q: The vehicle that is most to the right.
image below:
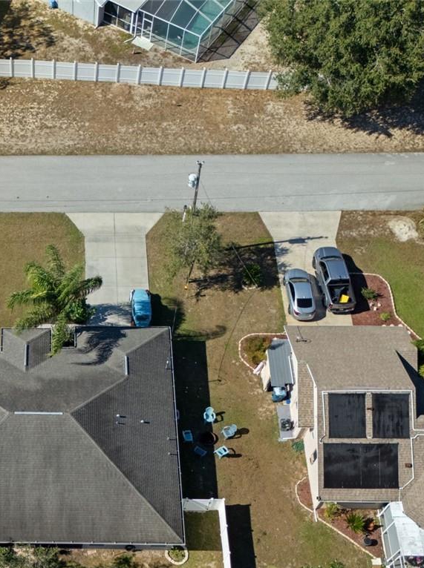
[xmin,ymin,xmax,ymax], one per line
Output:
[313,254,354,316]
